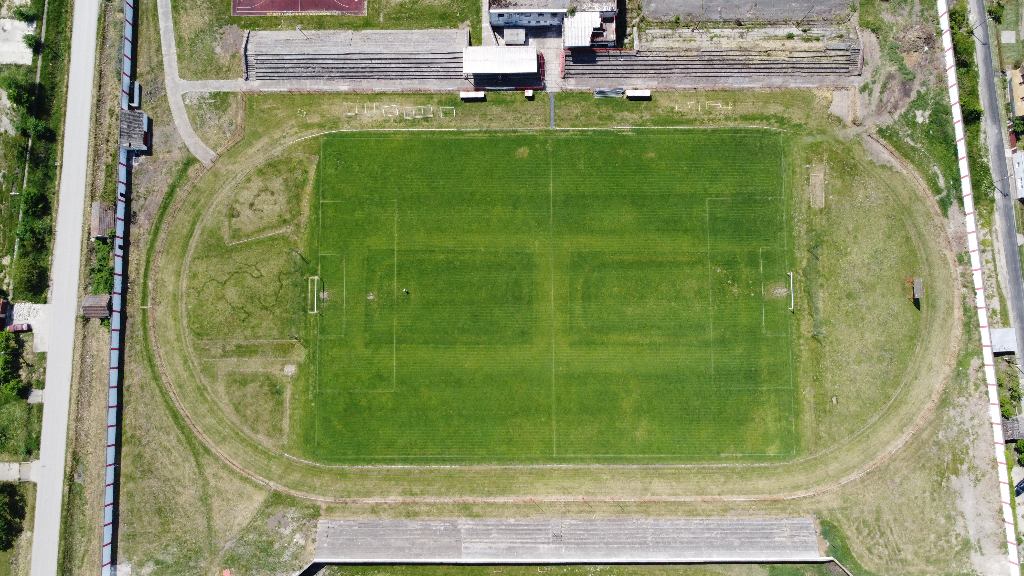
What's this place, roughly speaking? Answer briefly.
sports ground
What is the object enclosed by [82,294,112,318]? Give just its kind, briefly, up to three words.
shed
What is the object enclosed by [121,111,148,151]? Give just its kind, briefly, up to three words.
building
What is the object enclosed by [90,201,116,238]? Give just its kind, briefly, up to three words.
shed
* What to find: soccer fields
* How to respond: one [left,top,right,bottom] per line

[313,127,798,466]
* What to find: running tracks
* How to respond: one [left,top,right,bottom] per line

[153,91,956,499]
